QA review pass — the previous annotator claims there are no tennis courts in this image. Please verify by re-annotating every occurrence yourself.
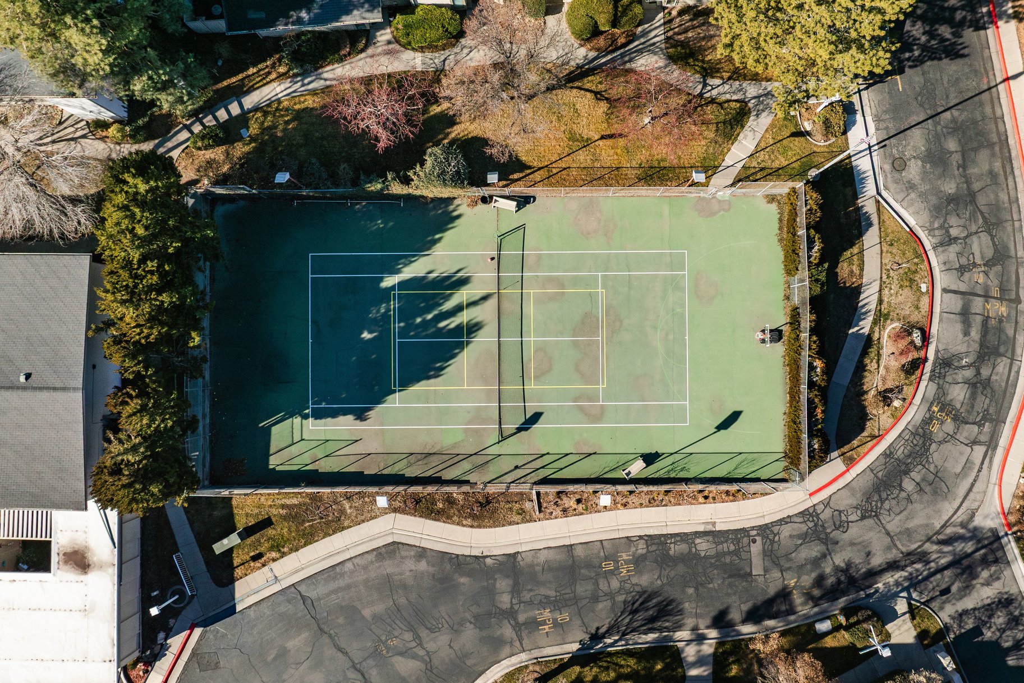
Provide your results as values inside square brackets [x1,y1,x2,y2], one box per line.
[210,193,789,485]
